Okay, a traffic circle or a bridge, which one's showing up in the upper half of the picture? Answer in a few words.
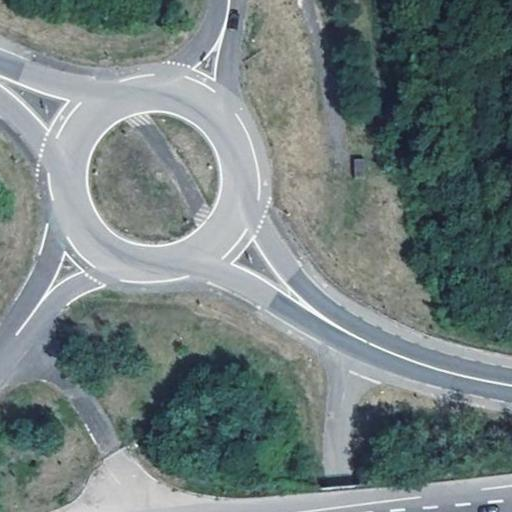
traffic circle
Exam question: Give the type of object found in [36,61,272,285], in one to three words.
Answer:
roundabout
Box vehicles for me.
[478,506,500,512]
[228,8,239,30]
